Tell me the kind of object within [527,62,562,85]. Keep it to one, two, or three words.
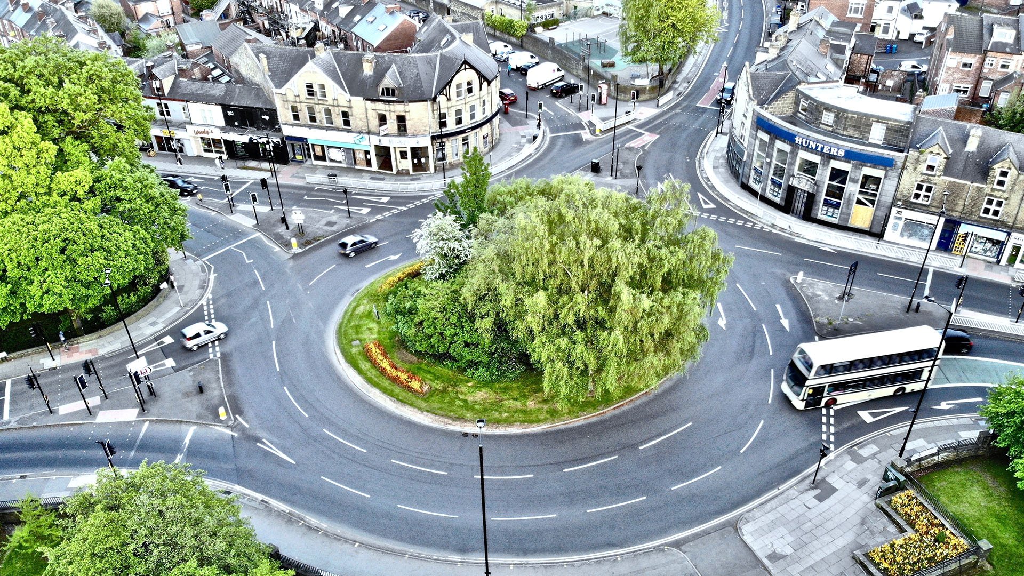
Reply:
vehicle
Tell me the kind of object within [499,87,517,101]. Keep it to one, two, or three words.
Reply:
car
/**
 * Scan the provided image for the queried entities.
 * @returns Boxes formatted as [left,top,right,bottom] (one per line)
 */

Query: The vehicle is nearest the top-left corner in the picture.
[159,169,195,192]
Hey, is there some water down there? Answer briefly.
No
